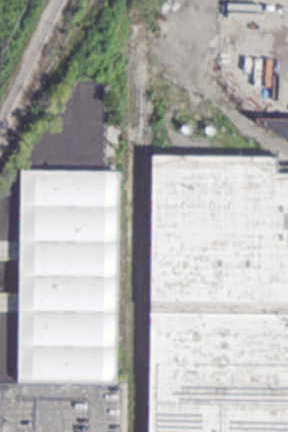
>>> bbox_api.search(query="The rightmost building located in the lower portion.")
[150,156,288,432]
